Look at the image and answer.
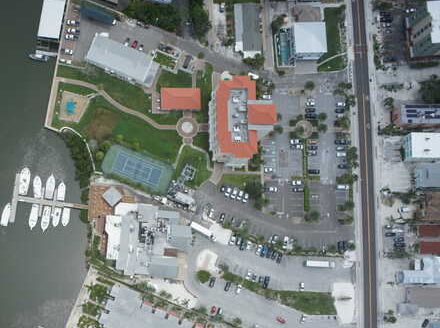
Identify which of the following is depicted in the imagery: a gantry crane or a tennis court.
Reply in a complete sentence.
Of the two, only a tennis court appears.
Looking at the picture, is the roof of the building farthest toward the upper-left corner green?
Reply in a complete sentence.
No, the color of the roof of the building farthest toward the upper-left corner is white.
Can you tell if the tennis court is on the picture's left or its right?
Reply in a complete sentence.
The tennis court is on the left side of the image.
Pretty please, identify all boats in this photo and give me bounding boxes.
[19,168,29,196]
[28,203,39,230]
[58,181,65,201]
[62,206,70,226]
[33,175,42,198]
[32,54,48,61]
[47,171,55,199]
[41,205,50,232]
[53,206,62,226]
[1,203,12,228]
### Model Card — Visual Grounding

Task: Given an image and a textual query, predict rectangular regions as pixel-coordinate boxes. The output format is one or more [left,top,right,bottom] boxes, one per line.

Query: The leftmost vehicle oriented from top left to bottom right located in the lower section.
[188,220,211,236]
